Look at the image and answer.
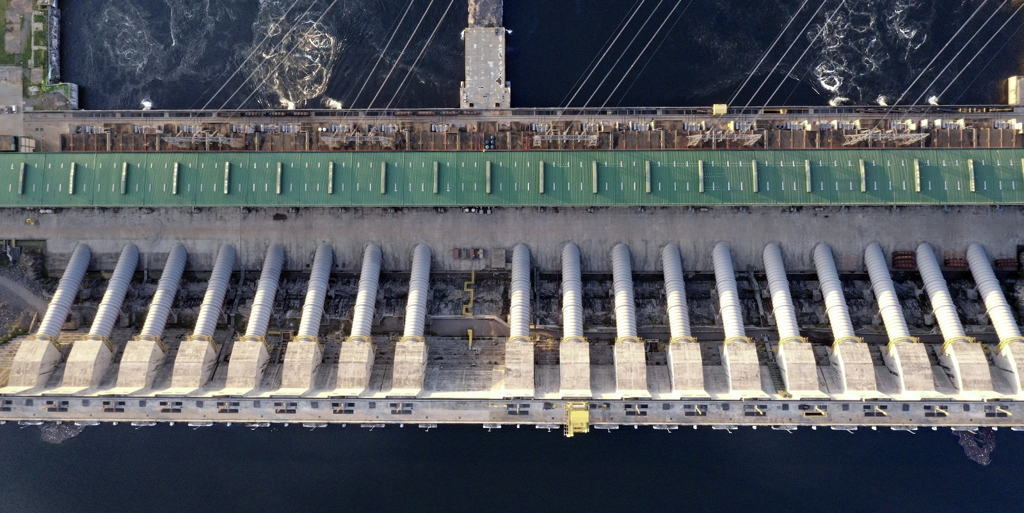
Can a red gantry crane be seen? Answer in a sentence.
No, there isn't any red gantry crane down there.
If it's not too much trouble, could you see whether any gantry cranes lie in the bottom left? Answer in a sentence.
No, the scene shows no gantry crane in the bottom left.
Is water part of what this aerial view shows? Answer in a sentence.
Yes, the picture does contain water.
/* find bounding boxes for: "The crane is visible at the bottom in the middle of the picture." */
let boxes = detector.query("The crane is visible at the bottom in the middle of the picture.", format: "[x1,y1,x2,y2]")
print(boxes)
[565,400,590,436]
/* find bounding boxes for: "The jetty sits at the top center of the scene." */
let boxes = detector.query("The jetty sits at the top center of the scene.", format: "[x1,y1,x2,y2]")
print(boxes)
[460,27,511,108]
